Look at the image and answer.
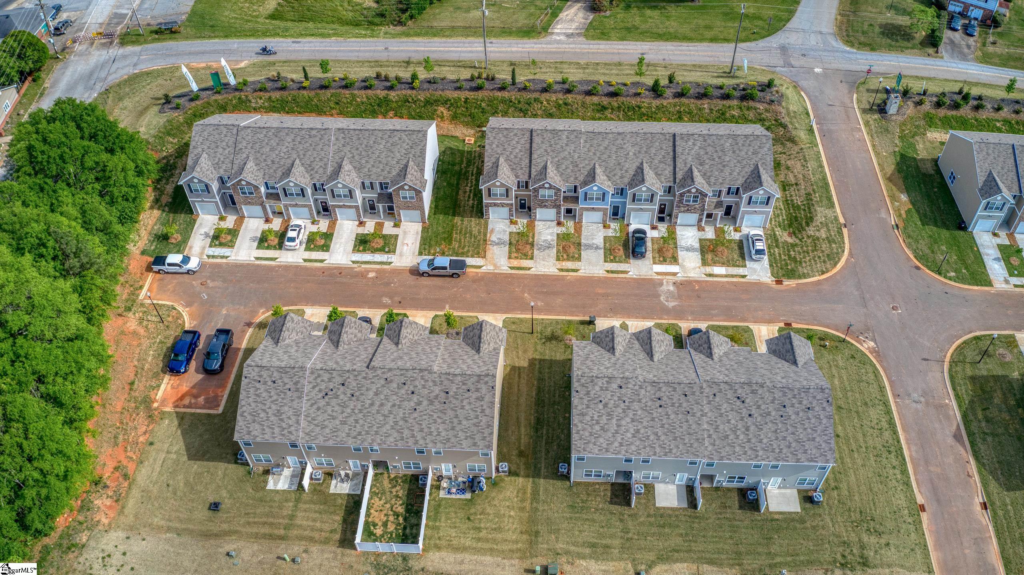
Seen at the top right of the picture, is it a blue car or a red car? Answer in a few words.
blue car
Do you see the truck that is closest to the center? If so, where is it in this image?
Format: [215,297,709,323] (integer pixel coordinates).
[417,258,467,280]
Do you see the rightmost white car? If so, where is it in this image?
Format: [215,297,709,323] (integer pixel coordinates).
[747,230,768,260]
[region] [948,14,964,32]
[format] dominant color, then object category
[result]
blue car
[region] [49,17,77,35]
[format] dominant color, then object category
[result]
gray car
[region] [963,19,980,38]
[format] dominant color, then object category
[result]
blue car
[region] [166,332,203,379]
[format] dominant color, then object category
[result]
blue truck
